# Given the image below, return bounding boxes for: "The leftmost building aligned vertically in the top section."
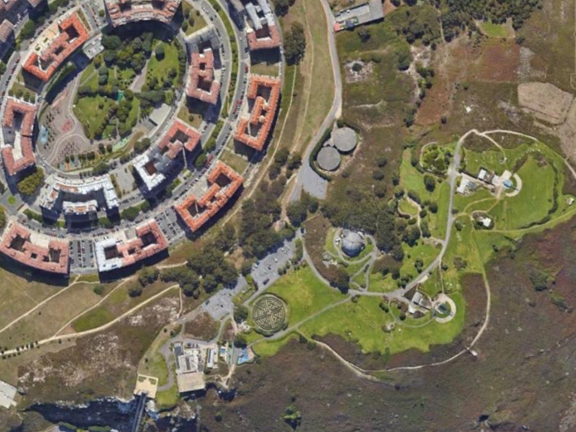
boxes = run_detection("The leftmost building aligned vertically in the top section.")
[1,96,38,175]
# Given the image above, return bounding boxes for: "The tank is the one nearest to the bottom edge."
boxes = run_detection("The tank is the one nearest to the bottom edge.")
[315,147,341,170]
